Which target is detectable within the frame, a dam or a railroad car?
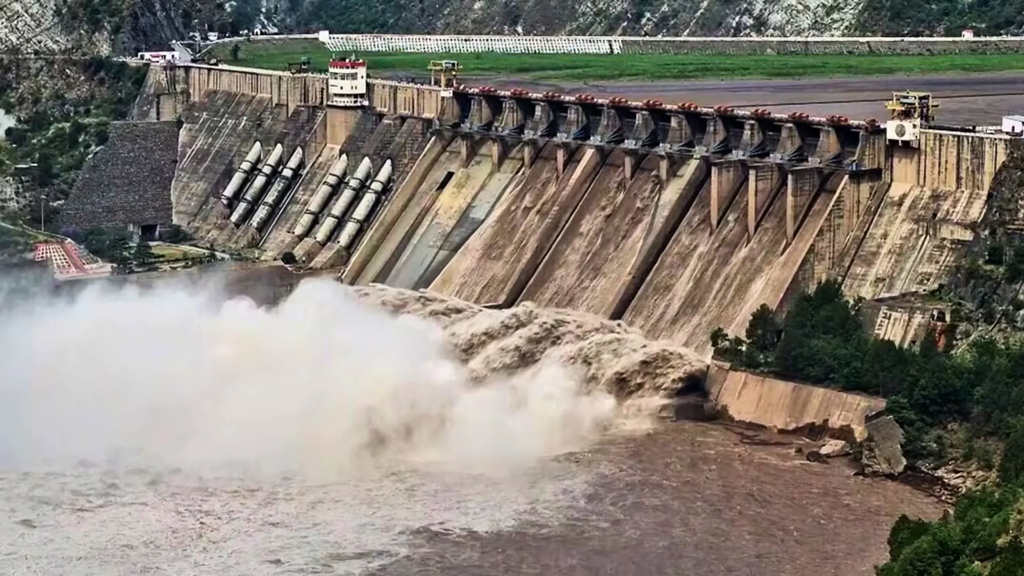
dam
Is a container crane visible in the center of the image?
No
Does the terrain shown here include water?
Yes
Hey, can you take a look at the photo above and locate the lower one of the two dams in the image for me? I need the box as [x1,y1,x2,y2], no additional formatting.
[141,61,1024,321]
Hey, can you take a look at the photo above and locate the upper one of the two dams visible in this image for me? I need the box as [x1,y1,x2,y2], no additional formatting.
[318,33,1024,59]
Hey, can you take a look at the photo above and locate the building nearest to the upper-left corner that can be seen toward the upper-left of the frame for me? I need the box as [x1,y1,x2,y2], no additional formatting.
[137,50,183,65]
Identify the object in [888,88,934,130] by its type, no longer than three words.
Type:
container crane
